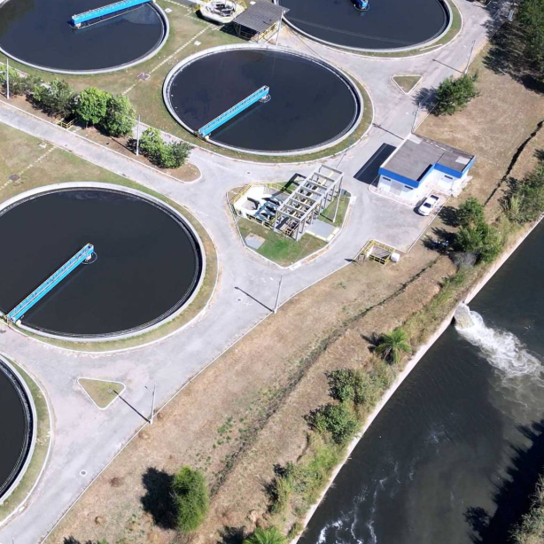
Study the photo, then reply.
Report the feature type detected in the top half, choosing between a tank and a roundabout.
tank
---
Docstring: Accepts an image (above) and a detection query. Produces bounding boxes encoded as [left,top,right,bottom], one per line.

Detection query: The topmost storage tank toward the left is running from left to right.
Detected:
[0,0,170,74]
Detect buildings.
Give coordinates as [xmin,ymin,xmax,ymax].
[377,132,474,203]
[233,0,289,51]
